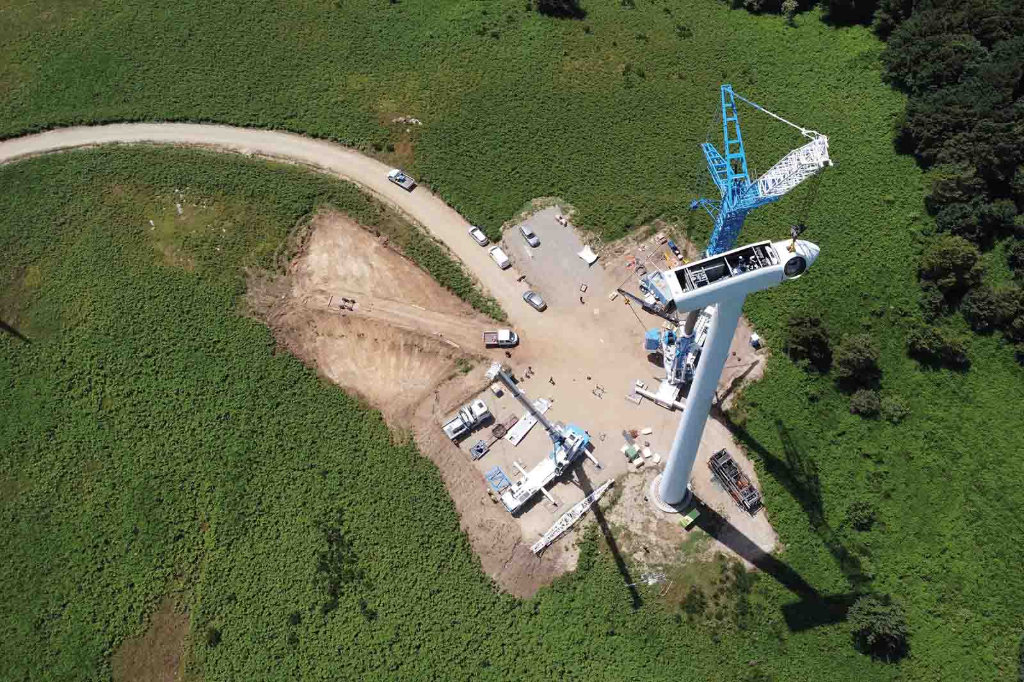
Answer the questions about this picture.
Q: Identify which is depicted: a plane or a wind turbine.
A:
wind turbine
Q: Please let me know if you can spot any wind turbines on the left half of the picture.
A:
No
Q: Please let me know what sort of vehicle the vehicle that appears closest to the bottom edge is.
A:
truck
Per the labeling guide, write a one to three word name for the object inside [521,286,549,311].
car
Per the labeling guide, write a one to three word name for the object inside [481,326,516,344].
vehicle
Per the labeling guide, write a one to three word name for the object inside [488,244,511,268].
vehicle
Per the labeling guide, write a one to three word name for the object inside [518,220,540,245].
car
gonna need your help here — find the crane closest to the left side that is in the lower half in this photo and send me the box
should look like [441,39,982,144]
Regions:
[479,361,597,511]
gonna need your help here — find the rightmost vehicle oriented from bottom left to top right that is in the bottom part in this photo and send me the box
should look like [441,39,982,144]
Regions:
[442,396,494,445]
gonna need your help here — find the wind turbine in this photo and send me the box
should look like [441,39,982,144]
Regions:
[657,237,823,506]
